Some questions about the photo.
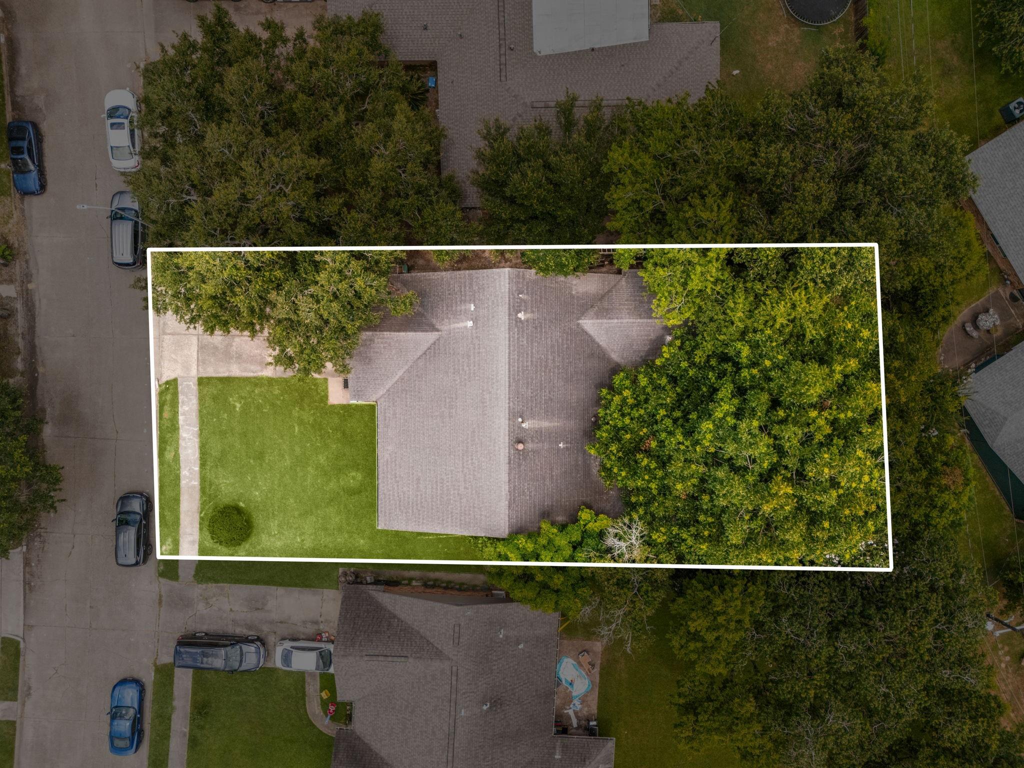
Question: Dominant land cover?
trees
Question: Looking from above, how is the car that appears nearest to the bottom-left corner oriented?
vertically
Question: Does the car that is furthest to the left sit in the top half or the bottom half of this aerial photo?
top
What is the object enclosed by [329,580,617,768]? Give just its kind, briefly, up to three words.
house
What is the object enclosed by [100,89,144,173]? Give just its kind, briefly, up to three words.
car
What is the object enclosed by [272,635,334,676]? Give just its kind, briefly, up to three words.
car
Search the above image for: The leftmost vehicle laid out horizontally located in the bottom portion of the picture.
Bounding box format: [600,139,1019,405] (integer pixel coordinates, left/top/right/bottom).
[173,632,272,679]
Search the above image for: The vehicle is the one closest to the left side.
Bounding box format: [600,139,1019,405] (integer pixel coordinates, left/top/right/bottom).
[5,118,51,198]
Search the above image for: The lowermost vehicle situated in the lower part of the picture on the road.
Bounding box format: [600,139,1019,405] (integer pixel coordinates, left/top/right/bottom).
[106,673,151,757]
